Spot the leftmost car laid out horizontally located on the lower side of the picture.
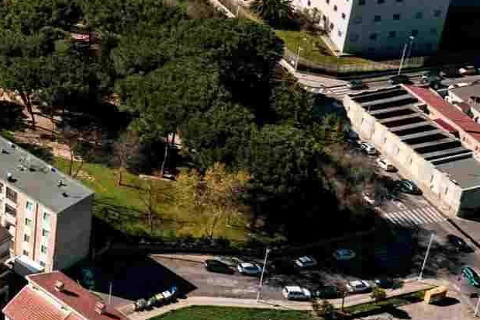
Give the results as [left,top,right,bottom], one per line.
[204,258,231,273]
